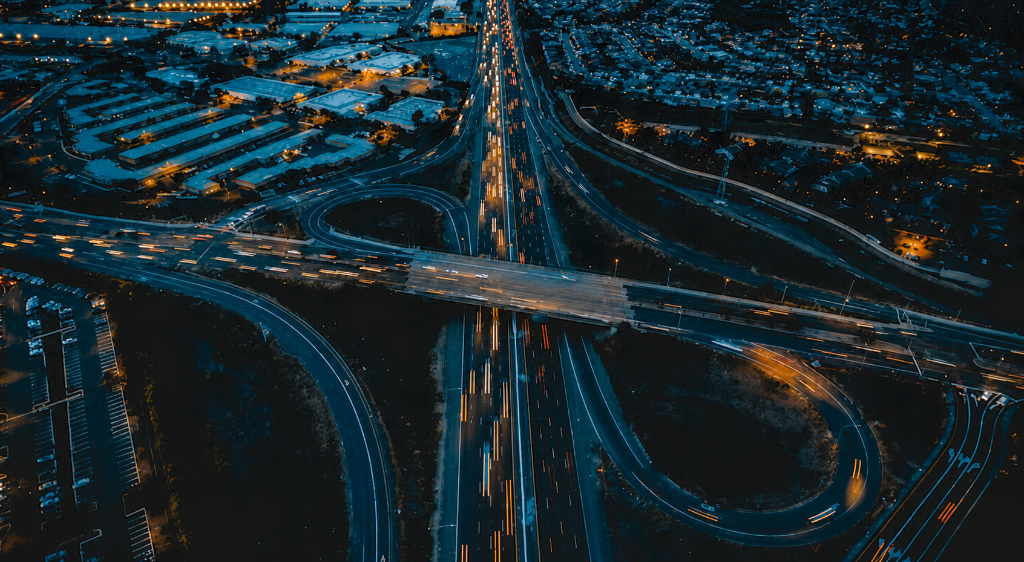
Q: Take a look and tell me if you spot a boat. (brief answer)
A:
No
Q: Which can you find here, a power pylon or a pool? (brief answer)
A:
power pylon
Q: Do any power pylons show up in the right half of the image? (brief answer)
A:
Yes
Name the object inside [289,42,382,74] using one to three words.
building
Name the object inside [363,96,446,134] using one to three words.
building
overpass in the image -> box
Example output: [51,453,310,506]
[406,250,639,330]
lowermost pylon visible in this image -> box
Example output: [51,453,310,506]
[714,151,738,203]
